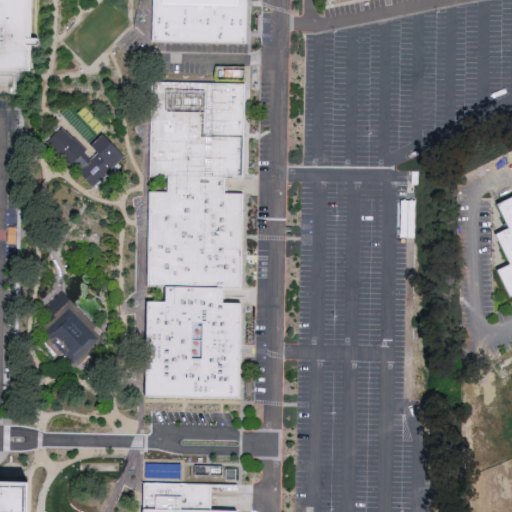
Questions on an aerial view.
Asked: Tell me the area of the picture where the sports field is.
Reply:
top left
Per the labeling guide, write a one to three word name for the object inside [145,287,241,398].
building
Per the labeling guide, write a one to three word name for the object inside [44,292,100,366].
building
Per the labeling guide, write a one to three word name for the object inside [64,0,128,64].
sports field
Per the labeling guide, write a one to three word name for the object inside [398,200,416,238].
shed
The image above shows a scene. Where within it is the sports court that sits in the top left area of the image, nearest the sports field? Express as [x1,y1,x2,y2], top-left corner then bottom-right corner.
[60,104,105,142]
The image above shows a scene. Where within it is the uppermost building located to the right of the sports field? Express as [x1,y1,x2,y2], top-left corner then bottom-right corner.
[152,0,248,43]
